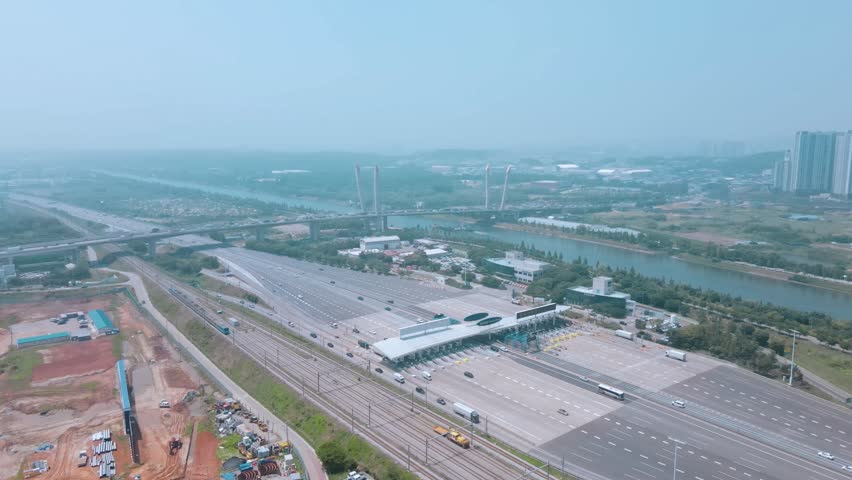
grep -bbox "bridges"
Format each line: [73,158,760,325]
[0,163,691,261]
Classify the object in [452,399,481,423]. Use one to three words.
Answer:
truck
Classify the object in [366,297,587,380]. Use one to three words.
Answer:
toll station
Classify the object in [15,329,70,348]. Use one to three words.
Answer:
shed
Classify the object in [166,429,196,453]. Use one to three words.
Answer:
work vehicle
